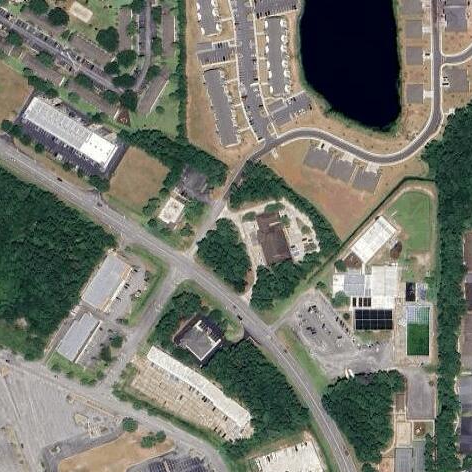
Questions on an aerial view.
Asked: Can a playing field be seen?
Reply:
Yes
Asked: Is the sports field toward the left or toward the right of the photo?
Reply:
right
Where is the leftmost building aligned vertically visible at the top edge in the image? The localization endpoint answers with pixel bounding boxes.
[117,8,132,50]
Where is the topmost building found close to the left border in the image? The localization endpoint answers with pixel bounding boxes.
[21,9,65,37]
